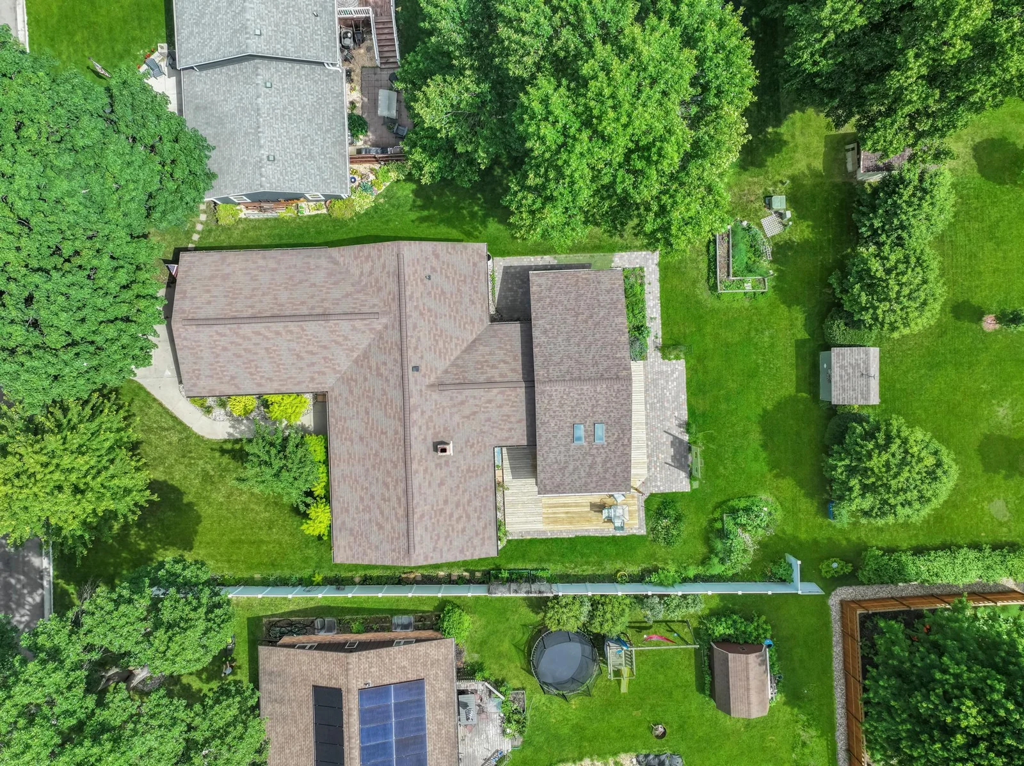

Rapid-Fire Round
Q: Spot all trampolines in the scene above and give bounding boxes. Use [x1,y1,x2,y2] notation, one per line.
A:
[530,625,601,707]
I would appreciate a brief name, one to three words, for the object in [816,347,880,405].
shed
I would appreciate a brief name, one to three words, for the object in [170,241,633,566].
house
